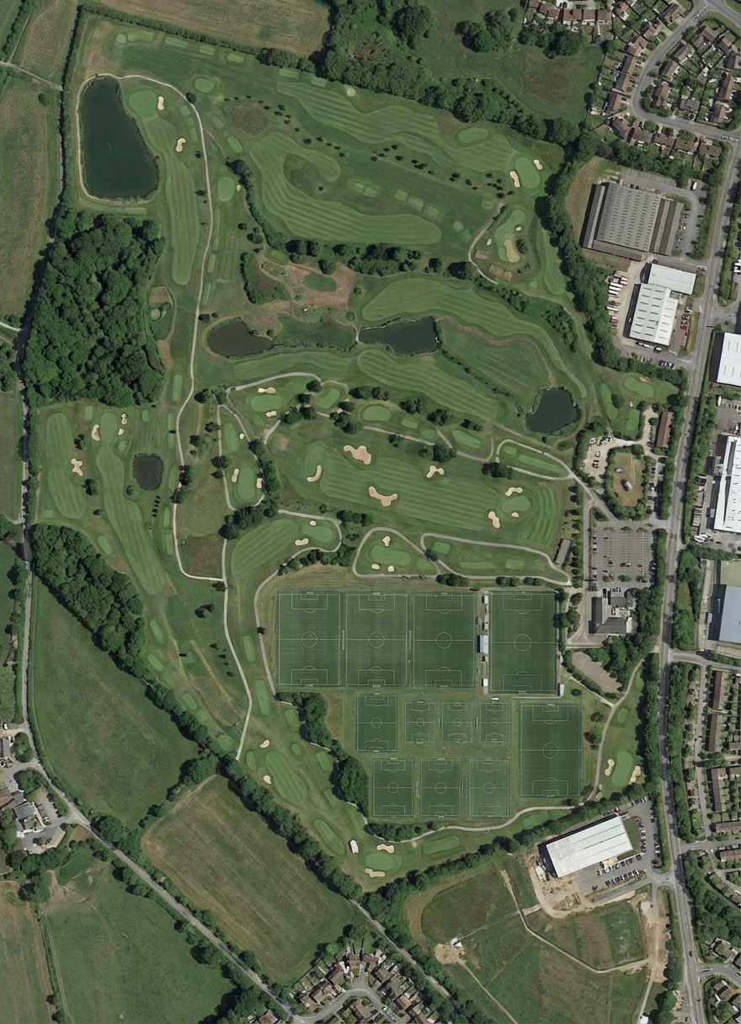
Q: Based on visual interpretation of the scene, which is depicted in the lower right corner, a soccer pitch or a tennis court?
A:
soccer pitch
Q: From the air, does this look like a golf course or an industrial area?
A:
golf course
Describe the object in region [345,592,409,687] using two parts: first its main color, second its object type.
green soccer field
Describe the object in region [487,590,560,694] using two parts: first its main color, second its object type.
green soccer field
